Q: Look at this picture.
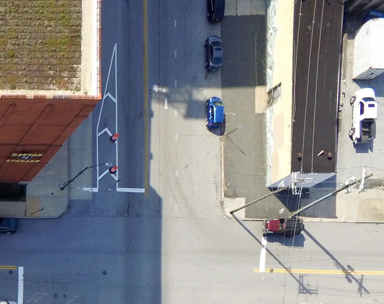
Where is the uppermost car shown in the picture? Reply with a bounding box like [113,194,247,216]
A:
[205,0,227,28]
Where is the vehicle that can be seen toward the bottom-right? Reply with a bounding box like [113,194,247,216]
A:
[261,215,309,236]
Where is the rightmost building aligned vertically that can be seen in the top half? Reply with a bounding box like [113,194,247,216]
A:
[266,0,337,193]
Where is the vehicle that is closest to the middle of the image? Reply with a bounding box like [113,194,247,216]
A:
[205,97,226,131]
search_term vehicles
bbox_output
[351,90,378,144]
[261,215,309,236]
[205,97,226,131]
[204,35,225,72]
[205,0,227,28]
[0,217,19,235]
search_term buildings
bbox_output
[0,0,102,184]
[266,0,337,193]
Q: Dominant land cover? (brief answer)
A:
paved ground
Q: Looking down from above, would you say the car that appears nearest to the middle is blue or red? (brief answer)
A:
blue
